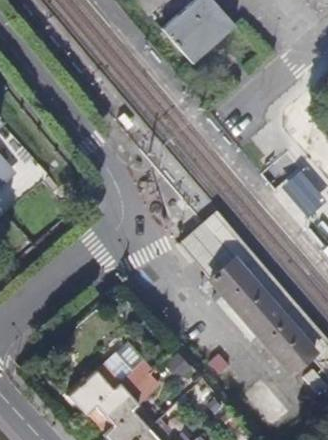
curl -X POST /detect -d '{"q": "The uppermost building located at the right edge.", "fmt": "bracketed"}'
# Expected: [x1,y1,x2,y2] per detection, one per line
[284,170,326,217]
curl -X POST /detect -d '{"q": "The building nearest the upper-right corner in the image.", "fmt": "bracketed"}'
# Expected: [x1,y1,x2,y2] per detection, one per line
[162,0,236,65]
